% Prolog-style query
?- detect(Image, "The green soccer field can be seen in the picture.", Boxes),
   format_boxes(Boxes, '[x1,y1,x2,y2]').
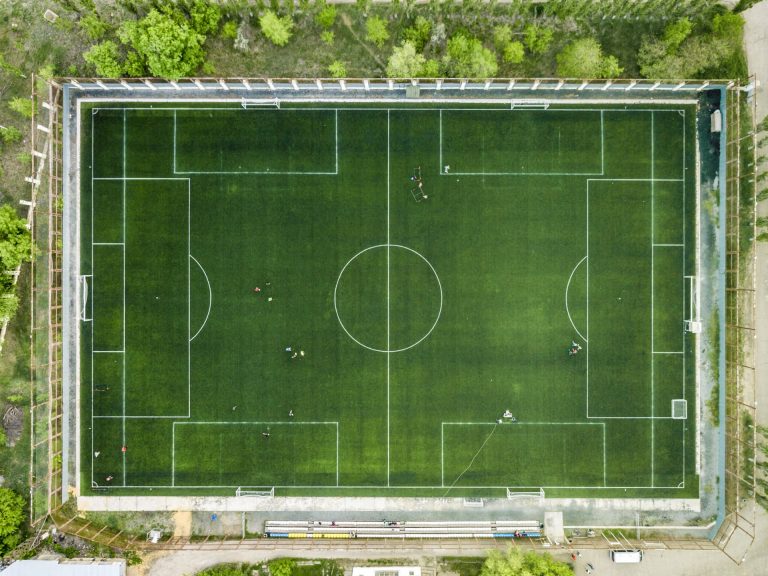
[80,103,700,497]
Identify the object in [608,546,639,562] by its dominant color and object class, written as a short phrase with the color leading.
white vehicle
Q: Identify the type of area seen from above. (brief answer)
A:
sports ground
